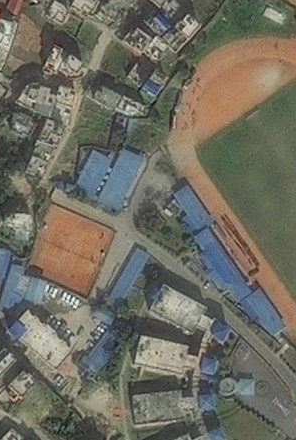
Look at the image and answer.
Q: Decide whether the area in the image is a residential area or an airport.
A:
residential area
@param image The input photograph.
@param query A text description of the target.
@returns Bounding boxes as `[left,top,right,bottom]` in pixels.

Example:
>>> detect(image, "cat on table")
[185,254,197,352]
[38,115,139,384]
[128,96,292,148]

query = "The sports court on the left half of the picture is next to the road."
[25,200,118,303]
